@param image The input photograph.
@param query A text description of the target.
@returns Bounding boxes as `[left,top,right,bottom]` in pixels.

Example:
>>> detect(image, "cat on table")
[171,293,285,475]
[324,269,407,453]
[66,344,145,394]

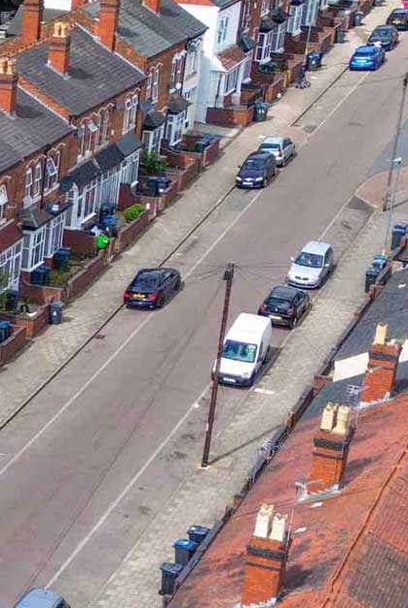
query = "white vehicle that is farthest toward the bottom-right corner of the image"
[217,306,279,377]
